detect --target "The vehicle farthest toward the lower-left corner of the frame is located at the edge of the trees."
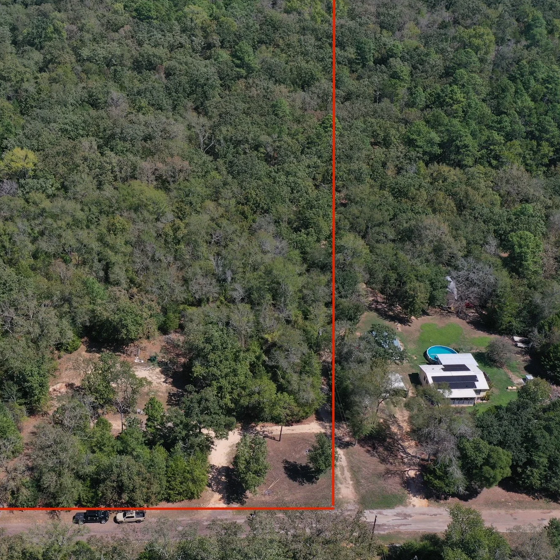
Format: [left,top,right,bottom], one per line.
[72,508,108,525]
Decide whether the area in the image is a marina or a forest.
forest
